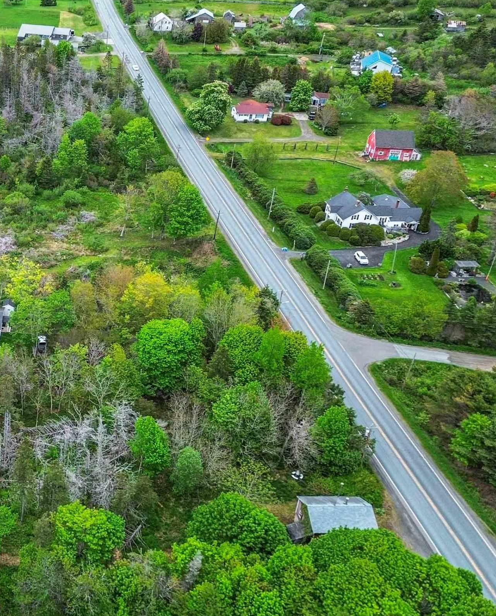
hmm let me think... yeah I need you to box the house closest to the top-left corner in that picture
[16,22,79,47]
